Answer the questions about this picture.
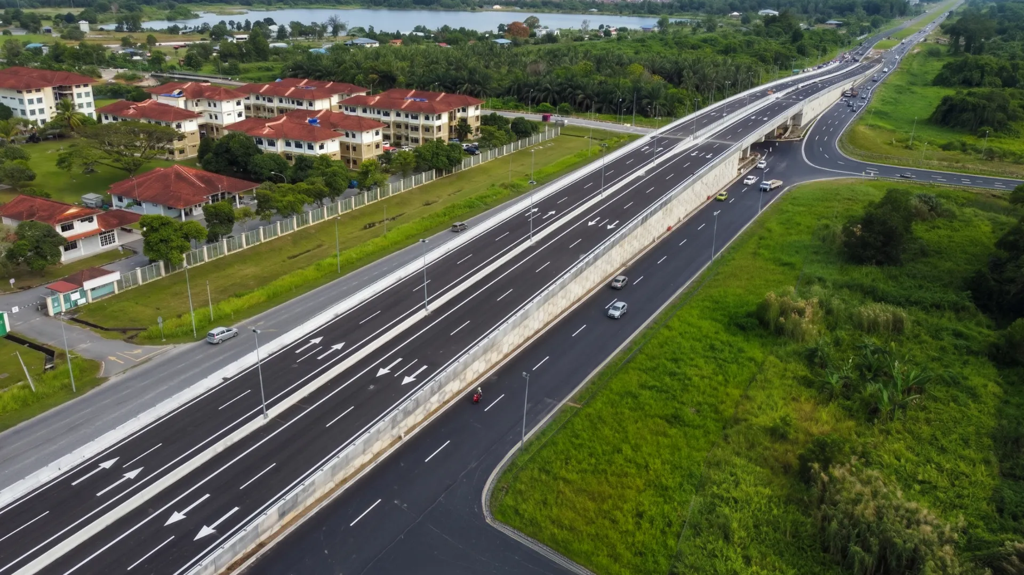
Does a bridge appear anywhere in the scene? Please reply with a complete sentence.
Yes, this view includes a bridge.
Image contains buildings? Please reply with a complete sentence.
Yes, there's a building down there.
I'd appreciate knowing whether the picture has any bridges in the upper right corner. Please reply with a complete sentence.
Yes, I can see a bridge in the upper right corner.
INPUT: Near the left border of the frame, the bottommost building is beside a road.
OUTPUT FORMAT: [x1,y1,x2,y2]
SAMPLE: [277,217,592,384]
[38,266,122,316]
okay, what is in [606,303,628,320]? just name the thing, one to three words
car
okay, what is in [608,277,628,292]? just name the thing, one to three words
car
